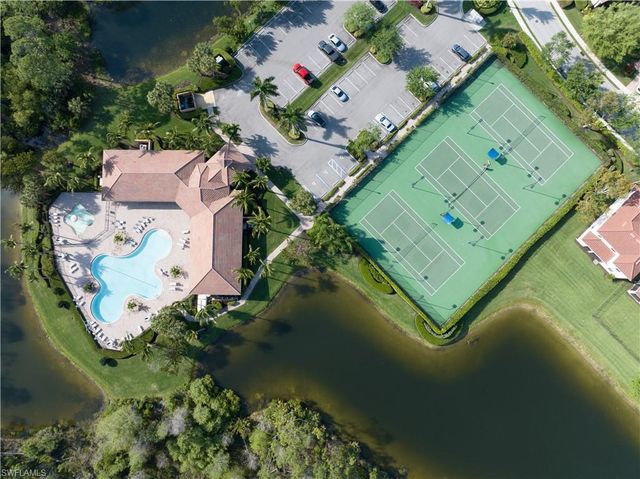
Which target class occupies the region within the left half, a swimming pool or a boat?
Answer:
swimming pool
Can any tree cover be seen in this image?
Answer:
Yes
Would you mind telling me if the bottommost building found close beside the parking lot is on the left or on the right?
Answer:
left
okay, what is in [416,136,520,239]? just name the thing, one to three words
tennis court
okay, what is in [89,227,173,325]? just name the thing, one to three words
swimming pool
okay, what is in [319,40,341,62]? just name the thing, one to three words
truck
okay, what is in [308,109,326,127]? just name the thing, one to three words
car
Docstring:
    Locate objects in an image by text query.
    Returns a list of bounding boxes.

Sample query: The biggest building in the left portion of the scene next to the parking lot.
[101,142,254,295]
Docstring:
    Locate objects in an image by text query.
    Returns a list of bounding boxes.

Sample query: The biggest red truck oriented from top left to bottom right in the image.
[292,63,314,86]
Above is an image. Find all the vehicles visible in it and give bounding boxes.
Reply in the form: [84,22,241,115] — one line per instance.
[369,0,387,12]
[452,43,472,61]
[308,109,326,127]
[319,40,341,62]
[377,115,396,133]
[292,63,314,86]
[329,33,347,51]
[330,84,349,102]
